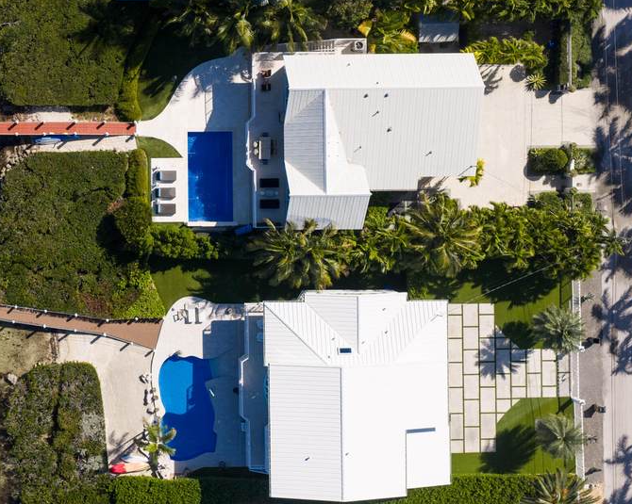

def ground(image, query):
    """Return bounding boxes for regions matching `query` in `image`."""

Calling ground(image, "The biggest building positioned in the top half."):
[246,39,485,231]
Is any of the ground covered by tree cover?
Yes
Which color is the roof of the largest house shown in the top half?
white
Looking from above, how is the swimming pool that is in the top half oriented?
from top to bottom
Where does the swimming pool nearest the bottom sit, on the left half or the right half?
left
